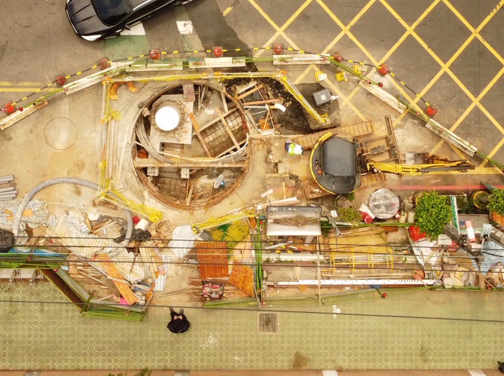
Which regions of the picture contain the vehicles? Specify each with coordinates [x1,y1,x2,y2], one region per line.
[65,0,199,40]
[297,116,475,200]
